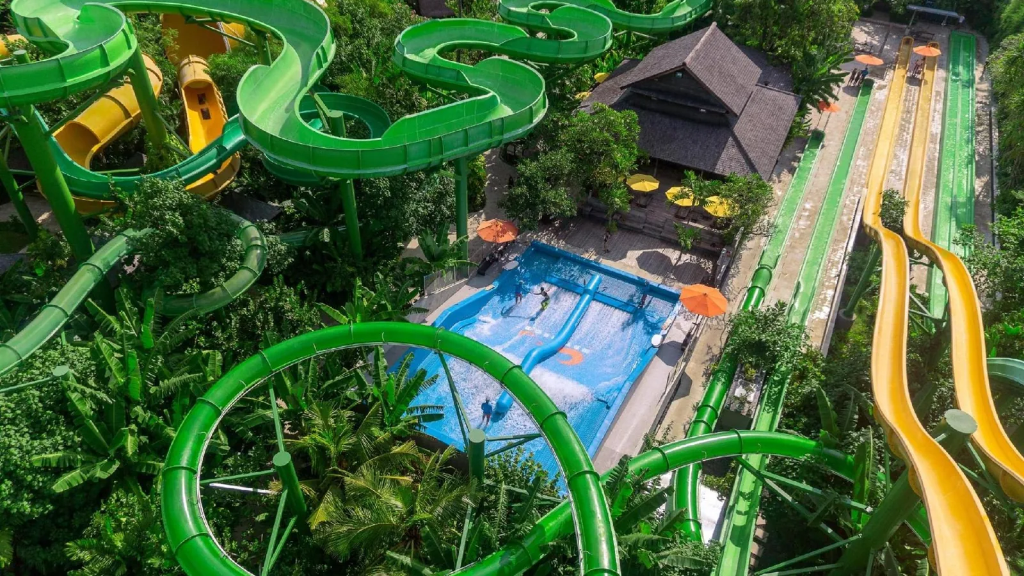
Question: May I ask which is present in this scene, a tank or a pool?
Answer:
pool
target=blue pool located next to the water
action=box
[394,239,688,506]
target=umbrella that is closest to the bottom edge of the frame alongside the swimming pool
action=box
[677,288,725,328]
